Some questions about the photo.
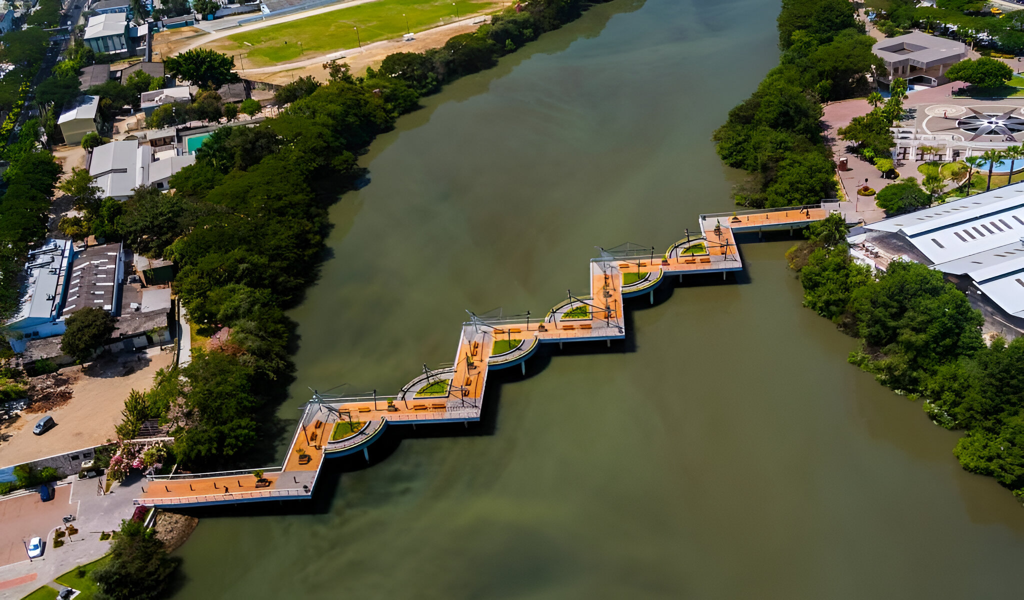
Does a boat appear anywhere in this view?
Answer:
No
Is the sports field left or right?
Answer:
left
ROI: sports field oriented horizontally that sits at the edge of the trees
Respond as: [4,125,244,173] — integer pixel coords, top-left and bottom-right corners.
[150,0,527,94]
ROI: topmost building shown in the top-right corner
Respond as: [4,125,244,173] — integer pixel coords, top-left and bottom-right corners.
[872,31,964,91]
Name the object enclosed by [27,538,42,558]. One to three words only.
car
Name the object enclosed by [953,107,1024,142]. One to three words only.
fountain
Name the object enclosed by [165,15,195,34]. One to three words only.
building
